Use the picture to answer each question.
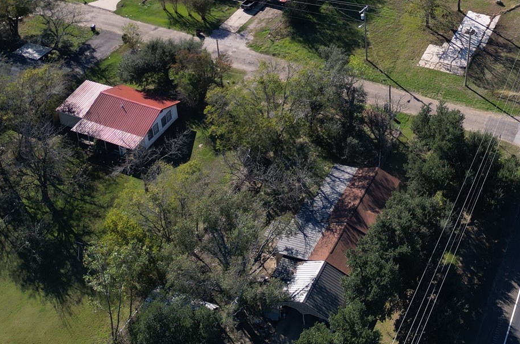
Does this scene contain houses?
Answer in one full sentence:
Yes, a house is visible in the scene.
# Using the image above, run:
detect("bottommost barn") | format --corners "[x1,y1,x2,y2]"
[282,248,351,322]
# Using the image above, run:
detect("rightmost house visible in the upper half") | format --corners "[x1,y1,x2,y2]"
[58,83,178,169]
